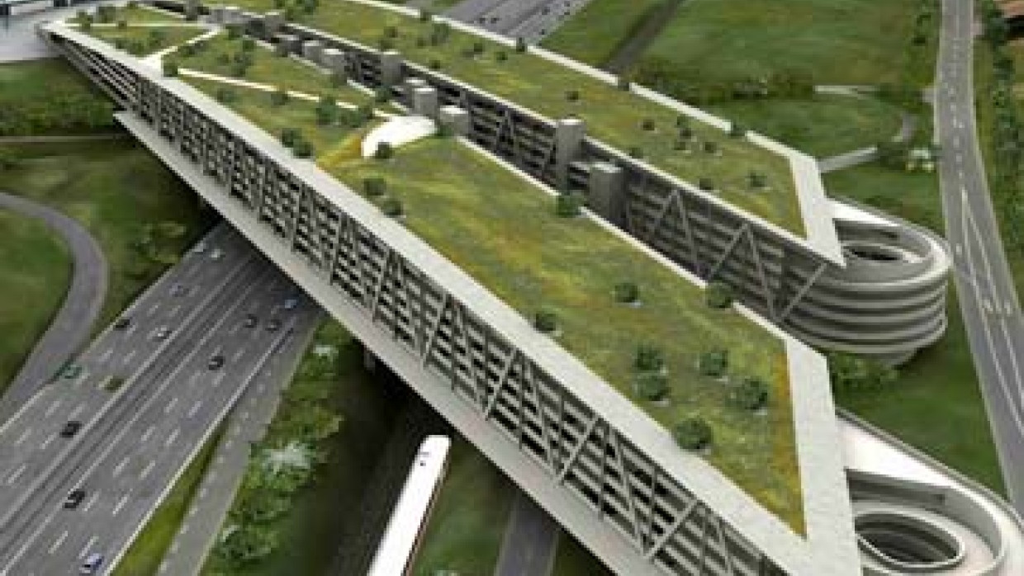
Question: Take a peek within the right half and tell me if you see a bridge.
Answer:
No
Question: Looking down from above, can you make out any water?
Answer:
No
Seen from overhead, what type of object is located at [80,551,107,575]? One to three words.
car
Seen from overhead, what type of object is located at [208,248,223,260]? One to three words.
vehicle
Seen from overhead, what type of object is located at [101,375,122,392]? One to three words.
car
